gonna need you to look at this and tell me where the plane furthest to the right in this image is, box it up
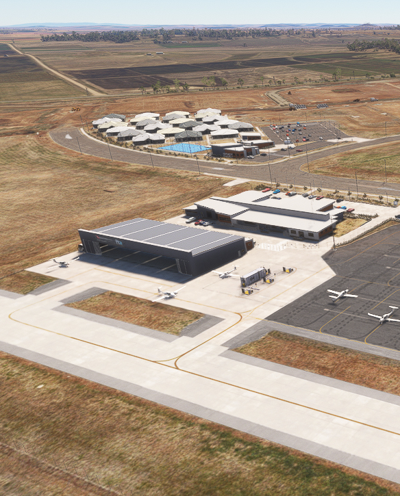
[369,305,400,324]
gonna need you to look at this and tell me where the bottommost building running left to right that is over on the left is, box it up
[74,218,244,275]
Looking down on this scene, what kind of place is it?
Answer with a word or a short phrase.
airport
